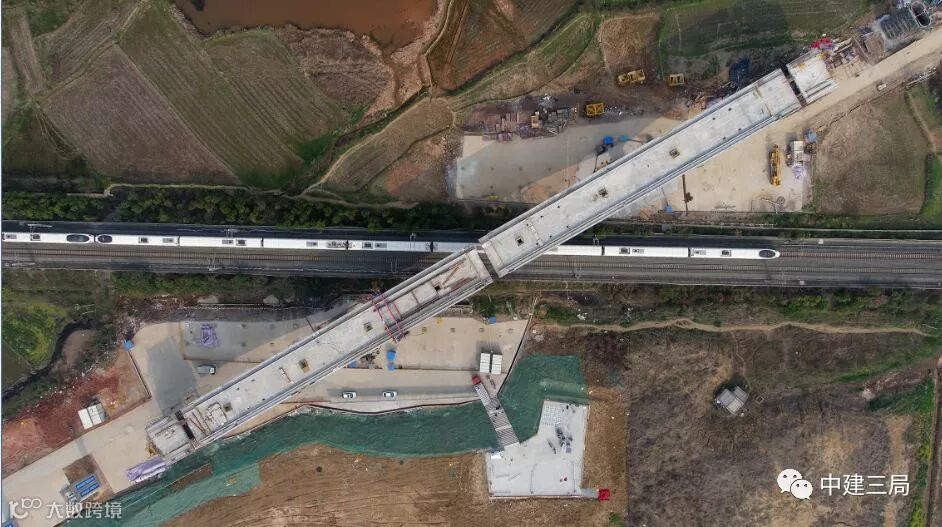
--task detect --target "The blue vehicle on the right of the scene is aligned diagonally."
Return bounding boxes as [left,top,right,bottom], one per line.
[594,133,616,154]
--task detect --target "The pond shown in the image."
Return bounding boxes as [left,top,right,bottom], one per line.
[178,0,436,53]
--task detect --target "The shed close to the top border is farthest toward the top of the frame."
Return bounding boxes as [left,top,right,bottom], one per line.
[875,6,919,43]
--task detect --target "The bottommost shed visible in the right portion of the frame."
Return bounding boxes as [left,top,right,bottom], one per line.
[715,380,751,415]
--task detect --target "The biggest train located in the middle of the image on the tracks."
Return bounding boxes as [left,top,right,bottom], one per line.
[97,234,779,260]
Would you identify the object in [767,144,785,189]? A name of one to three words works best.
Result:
vehicle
